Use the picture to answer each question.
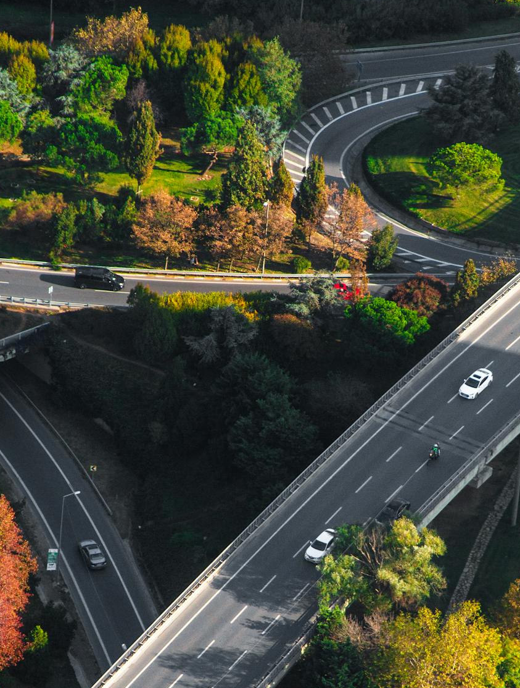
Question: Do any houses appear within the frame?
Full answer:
No, there appears to be no house in this shot.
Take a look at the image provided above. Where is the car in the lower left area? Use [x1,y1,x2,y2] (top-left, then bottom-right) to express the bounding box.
[79,540,107,571]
